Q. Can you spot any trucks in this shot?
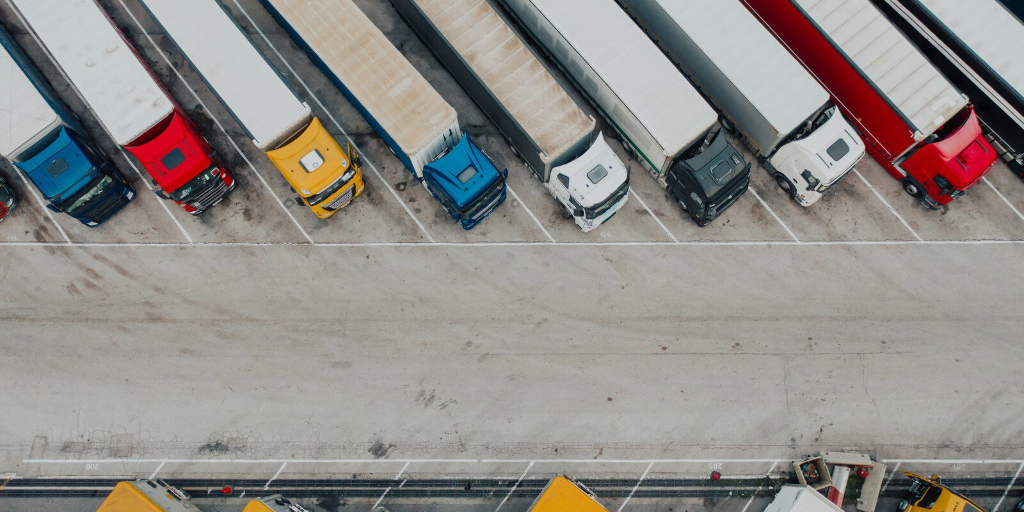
Yes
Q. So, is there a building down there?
No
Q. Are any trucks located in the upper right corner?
Yes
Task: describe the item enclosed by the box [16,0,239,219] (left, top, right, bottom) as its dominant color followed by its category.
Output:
white truck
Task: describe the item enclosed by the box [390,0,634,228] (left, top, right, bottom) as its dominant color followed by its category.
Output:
white truck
